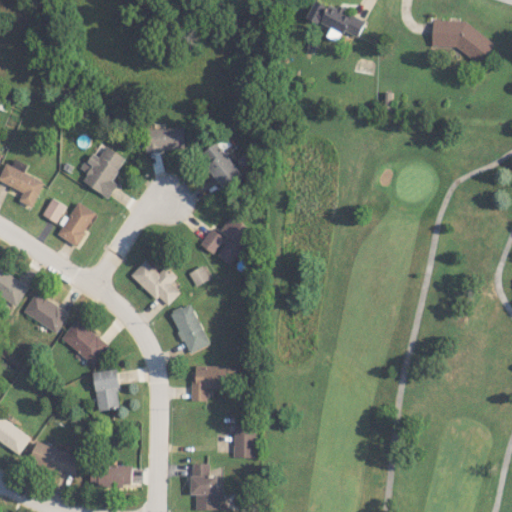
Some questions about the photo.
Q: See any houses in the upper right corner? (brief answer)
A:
Yes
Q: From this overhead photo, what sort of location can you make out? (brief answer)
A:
golf course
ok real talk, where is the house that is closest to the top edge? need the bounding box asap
[306,2,365,36]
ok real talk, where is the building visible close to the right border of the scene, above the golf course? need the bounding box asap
[432,20,494,63]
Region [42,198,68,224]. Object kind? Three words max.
building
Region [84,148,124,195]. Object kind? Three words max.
house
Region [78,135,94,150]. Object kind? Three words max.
swimming pool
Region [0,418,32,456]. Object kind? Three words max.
house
